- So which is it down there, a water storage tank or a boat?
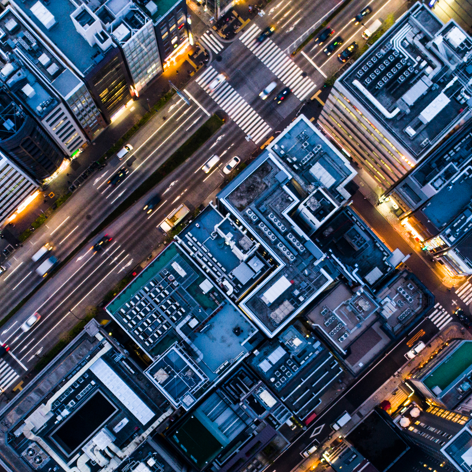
water storage tank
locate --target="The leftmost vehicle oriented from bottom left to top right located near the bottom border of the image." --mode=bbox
[302,443,319,460]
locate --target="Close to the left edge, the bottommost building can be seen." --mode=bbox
[0,320,173,472]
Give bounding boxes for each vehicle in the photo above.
[161,204,189,231]
[115,143,134,161]
[330,411,353,430]
[144,195,162,212]
[224,156,242,174]
[284,418,297,431]
[0,345,9,358]
[455,309,472,327]
[324,38,343,55]
[33,245,51,262]
[111,167,128,186]
[302,443,319,460]
[259,82,276,99]
[316,28,333,45]
[256,27,274,44]
[203,77,220,95]
[360,14,384,41]
[24,311,41,328]
[407,342,425,359]
[94,233,111,251]
[34,254,59,278]
[202,155,220,173]
[0,264,8,276]
[353,6,371,24]
[274,87,292,104]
